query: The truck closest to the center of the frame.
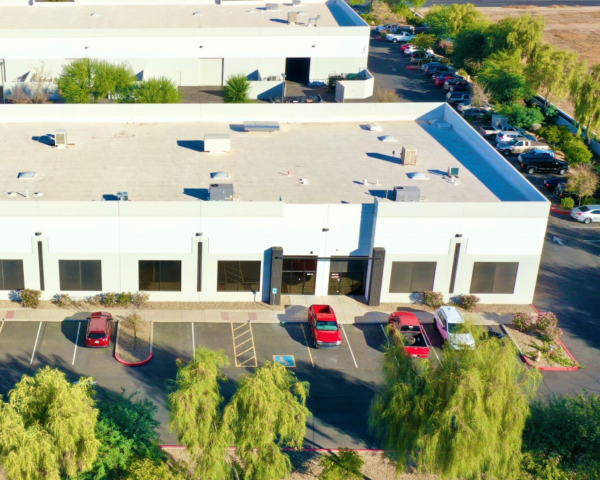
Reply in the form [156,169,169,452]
[303,296,341,341]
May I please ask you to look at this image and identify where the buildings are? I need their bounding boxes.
[0,103,551,305]
[0,0,369,86]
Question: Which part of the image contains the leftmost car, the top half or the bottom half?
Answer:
bottom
